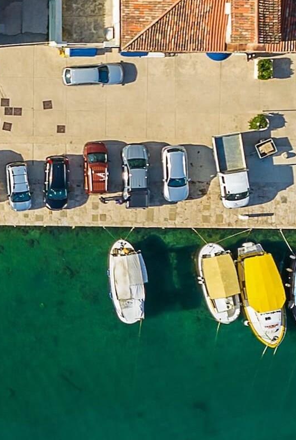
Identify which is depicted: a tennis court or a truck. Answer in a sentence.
Looking from above, you can make out a truck.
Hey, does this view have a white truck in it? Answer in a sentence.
Yes, there's a white truck down there.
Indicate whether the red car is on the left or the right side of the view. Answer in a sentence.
The red car is on the left side of the image.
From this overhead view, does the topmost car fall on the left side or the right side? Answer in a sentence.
The topmost car sits on the left side.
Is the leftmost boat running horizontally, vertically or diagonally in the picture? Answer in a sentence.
The leftmost boat has been laid out vertically relative to the frame.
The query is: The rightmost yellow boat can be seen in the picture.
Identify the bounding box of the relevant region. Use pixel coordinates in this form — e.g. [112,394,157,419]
[232,240,289,349]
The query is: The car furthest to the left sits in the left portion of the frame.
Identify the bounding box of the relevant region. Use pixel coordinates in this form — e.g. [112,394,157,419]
[3,161,33,212]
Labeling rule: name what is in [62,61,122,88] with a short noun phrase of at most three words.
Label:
car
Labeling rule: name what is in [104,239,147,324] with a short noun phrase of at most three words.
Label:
boat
